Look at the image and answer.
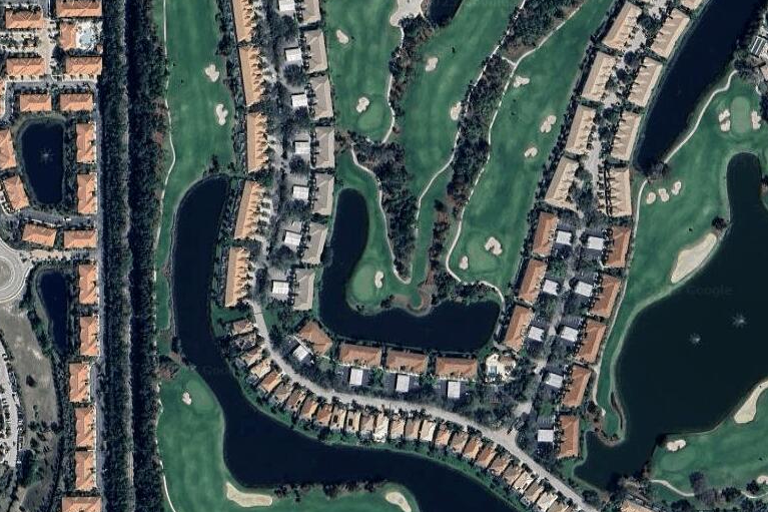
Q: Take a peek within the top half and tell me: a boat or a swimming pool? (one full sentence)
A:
What appears within the top half is a swimming pool.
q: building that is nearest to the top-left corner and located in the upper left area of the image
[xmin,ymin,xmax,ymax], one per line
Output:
[6,10,43,29]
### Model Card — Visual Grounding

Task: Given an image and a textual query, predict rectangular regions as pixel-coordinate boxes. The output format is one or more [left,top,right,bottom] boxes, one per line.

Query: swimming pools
[486,355,517,380]
[76,20,103,51]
